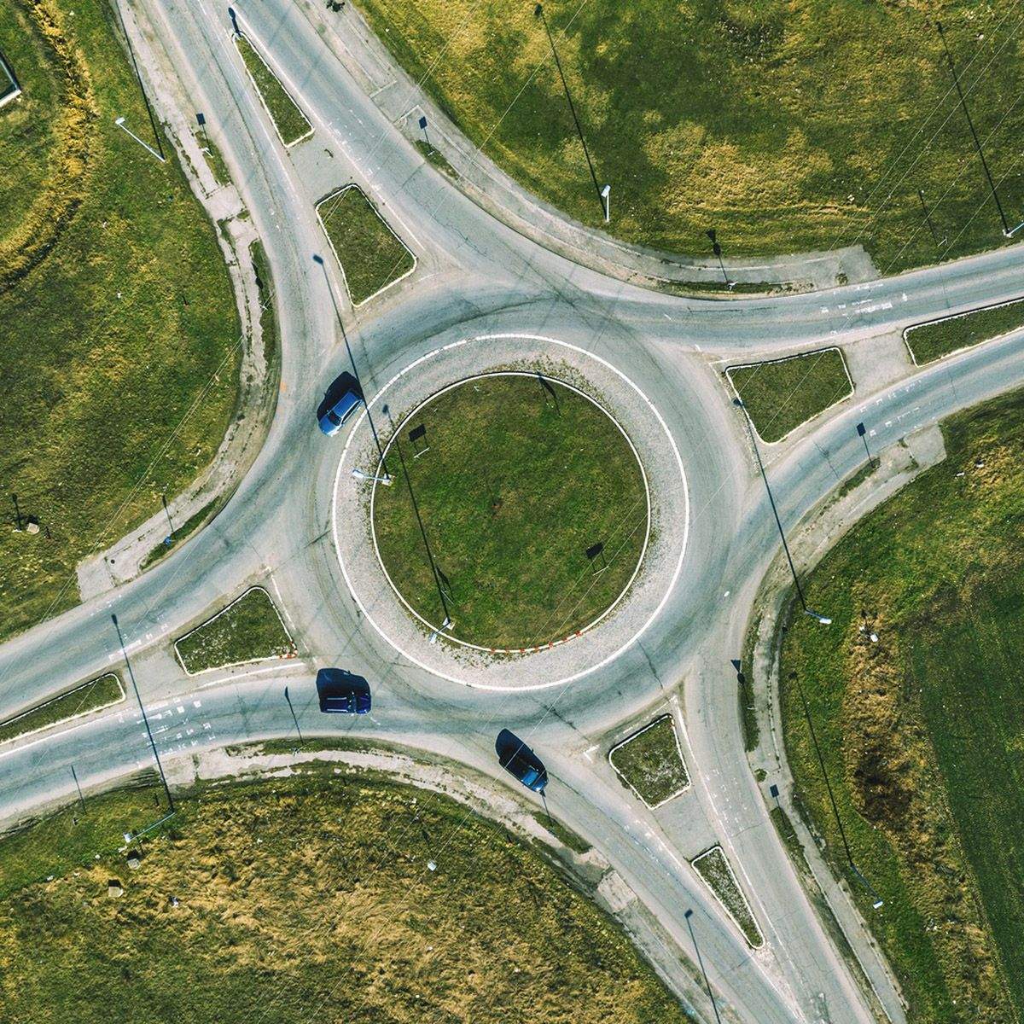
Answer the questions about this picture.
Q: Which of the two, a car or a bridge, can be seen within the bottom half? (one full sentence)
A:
Looking within the bottom half, you will find a car.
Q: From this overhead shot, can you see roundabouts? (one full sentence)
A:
Yes, there's a roundabout down there.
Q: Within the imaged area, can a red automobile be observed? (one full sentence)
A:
No, the frame has no red automobile in it.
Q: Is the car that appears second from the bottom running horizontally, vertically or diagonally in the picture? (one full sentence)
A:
I'd say the car that appears second from the bottom is aligned horizontally in the picture.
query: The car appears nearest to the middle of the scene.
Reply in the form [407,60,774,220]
[320,385,368,433]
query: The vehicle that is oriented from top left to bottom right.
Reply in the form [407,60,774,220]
[498,747,547,790]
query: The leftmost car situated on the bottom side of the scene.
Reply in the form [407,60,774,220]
[318,690,372,717]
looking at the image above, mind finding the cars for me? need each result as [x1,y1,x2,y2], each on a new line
[498,747,547,790]
[320,385,368,433]
[318,690,372,717]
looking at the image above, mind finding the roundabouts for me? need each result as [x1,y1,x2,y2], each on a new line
[251,252,770,772]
